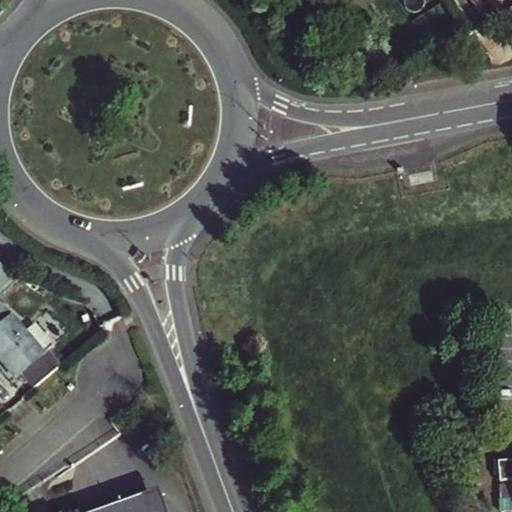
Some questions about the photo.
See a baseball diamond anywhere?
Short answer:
No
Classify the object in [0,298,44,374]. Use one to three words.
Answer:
house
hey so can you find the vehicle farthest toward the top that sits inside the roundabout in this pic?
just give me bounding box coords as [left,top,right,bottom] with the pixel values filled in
[72,216,92,230]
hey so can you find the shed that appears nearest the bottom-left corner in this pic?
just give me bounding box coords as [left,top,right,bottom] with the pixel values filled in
[49,468,74,496]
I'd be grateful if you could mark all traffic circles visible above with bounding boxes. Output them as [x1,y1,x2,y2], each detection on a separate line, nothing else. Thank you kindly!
[0,0,258,257]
